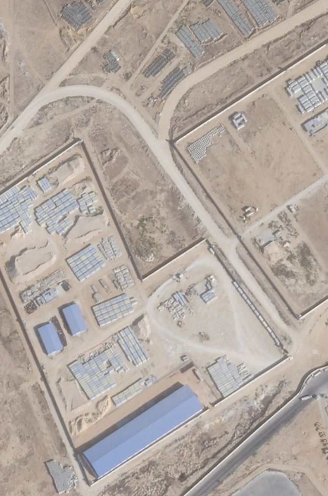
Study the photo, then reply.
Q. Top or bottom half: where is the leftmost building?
bottom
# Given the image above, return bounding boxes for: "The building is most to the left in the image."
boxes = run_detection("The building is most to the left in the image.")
[38,323,63,356]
